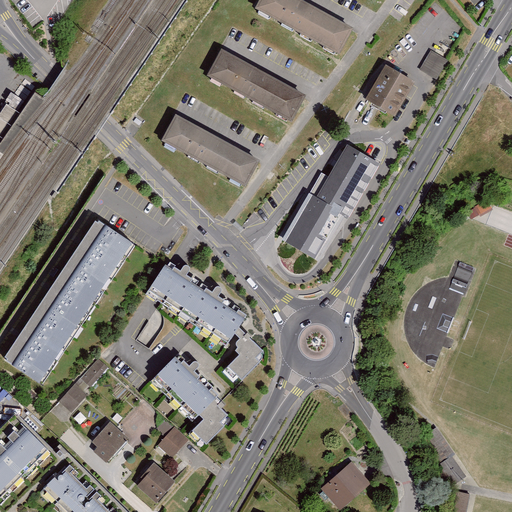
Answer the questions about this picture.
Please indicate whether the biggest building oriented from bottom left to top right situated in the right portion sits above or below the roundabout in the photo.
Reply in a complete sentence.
From this view, the biggest building oriented from bottom left to top right situated in the right portion can be seen above the roundabout.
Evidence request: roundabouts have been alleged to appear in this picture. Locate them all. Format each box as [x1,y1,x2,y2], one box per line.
[280,306,352,378]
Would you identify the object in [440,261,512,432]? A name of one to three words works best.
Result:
soccer field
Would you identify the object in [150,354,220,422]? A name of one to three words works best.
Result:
building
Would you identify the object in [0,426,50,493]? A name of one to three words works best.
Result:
building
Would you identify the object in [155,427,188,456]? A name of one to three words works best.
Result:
house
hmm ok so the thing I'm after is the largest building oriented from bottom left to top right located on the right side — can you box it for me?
[282,145,380,262]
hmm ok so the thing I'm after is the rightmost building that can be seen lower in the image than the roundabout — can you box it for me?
[320,463,370,510]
